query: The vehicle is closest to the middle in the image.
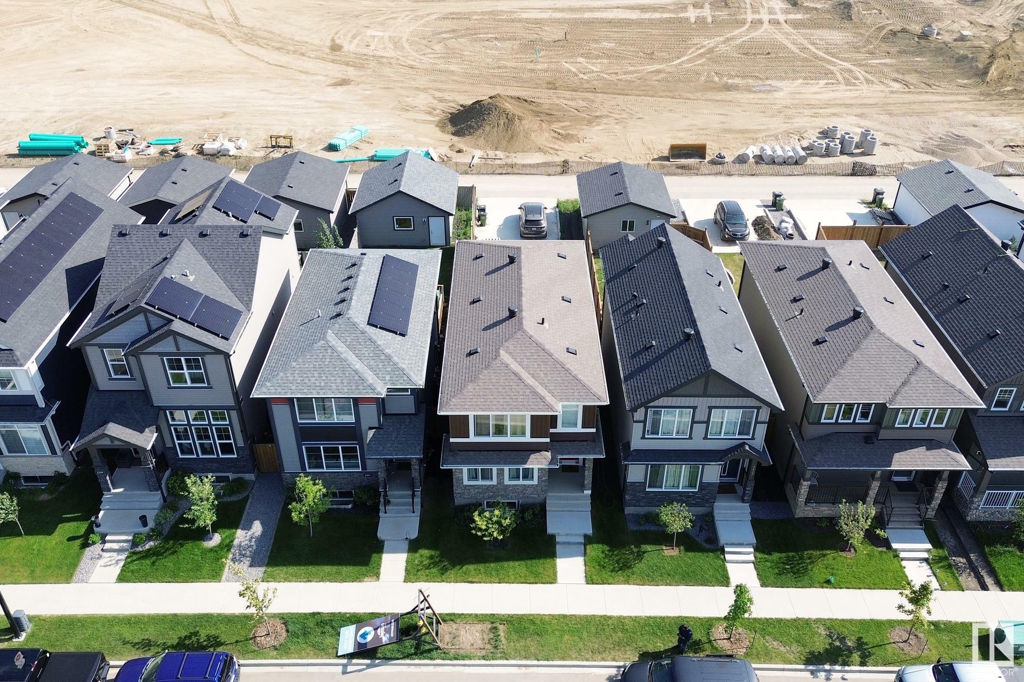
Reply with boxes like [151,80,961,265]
[518,203,549,236]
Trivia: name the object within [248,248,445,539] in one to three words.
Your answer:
house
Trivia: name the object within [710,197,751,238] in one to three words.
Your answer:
car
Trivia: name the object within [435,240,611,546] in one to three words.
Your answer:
house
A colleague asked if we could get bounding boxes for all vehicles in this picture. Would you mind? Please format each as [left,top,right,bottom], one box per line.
[710,197,751,238]
[113,652,243,682]
[619,658,760,682]
[518,203,549,236]
[0,646,120,682]
[891,659,1024,682]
